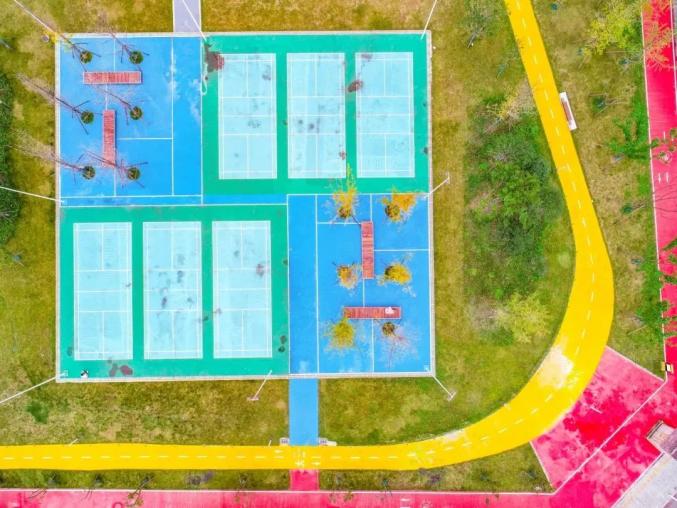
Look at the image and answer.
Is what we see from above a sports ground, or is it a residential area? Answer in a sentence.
The area seen from above is a sports ground.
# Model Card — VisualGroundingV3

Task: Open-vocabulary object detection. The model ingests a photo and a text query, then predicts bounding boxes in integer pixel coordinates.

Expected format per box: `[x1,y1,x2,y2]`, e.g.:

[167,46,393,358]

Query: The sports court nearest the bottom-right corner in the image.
[288,193,432,376]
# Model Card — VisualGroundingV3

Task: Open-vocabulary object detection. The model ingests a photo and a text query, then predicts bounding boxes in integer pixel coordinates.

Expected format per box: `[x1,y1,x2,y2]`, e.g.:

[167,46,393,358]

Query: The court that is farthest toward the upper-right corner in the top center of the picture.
[355,52,415,177]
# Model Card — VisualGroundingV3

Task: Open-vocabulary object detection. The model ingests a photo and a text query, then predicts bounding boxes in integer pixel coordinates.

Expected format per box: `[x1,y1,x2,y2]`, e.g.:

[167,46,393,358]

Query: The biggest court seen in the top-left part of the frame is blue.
[58,34,288,206]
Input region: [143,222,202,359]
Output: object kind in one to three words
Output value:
sports court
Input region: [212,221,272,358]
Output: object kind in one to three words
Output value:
sports court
